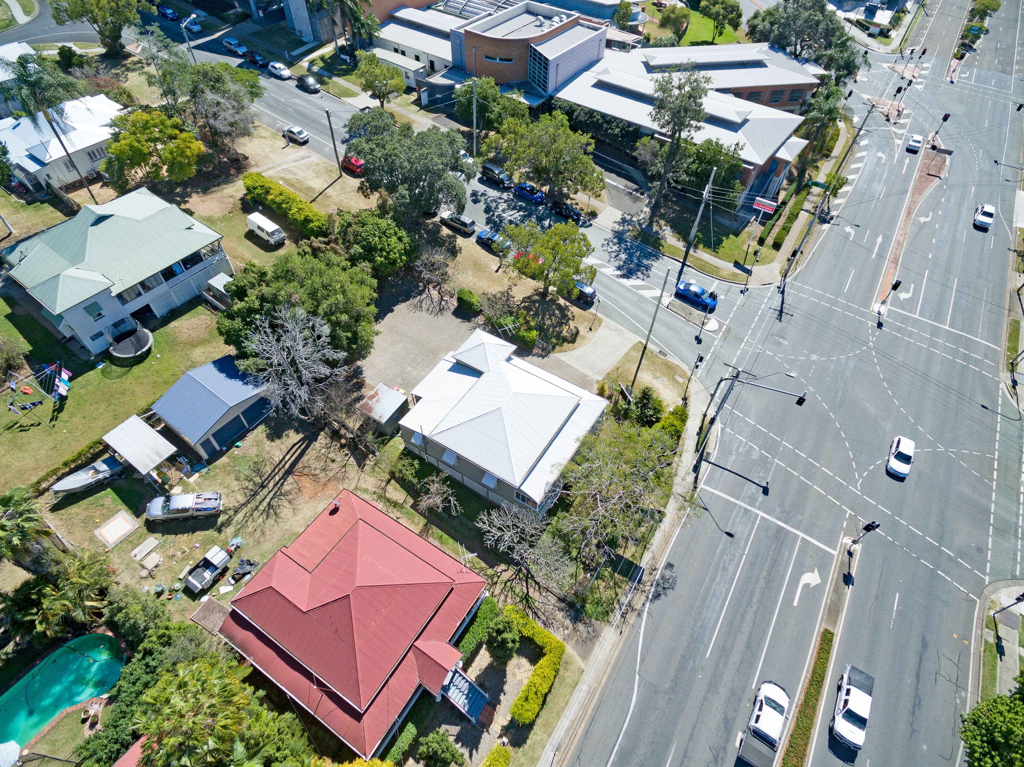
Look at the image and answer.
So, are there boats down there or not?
Yes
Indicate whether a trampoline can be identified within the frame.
Yes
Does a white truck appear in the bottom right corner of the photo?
Yes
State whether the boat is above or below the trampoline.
below it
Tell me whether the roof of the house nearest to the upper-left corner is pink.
No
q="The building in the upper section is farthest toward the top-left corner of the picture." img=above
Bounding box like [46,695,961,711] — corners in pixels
[0,34,37,82]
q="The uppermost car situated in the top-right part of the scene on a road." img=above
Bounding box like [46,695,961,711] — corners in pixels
[907,137,923,150]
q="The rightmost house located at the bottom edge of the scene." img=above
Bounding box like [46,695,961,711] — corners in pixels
[217,488,496,760]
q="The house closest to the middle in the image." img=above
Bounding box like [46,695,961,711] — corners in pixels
[398,292,610,515]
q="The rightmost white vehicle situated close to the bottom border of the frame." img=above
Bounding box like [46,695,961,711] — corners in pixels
[829,661,878,754]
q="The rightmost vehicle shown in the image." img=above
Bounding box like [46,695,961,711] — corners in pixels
[973,205,995,227]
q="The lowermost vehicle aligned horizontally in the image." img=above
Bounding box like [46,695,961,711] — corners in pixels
[146,491,223,524]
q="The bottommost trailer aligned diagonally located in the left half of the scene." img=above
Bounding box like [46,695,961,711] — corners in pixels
[180,540,238,597]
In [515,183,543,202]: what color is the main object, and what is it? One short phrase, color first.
blue car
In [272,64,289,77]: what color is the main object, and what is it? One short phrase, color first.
white vehicle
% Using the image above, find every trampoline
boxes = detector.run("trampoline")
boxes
[100,322,158,368]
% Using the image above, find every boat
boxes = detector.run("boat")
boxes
[44,455,121,496]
